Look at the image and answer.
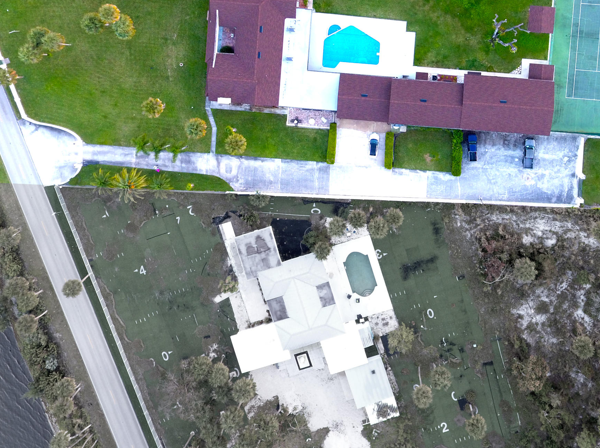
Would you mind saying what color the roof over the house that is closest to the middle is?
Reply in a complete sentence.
The color of the roof on the house that is closest to the middle is white.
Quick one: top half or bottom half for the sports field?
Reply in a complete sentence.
The sports field is in the bottom half of the image.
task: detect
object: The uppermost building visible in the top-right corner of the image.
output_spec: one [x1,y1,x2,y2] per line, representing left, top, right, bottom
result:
[527,5,555,34]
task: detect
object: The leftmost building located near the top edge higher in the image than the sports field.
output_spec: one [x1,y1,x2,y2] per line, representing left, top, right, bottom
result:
[204,0,340,111]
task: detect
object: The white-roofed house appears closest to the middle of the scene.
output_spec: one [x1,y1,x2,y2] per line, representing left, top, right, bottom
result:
[219,220,374,374]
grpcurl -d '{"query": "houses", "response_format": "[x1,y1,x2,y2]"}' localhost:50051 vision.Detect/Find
[219,220,374,374]
[204,0,340,111]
